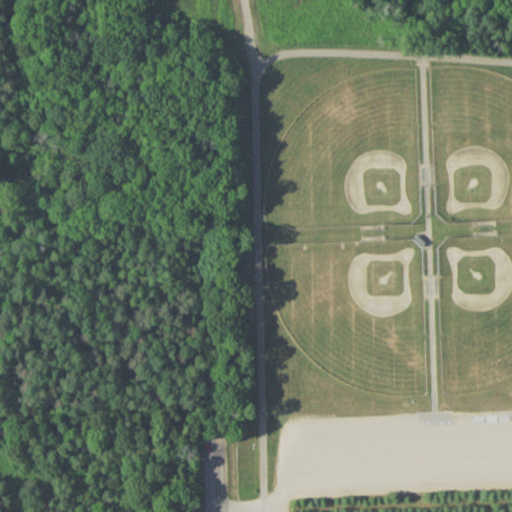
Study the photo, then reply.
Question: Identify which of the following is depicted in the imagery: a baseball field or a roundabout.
baseball field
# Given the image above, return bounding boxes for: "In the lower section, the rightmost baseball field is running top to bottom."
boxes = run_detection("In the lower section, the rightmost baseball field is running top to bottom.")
[438,234,512,396]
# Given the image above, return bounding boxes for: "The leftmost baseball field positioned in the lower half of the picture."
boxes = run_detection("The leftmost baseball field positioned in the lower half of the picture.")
[264,240,426,397]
